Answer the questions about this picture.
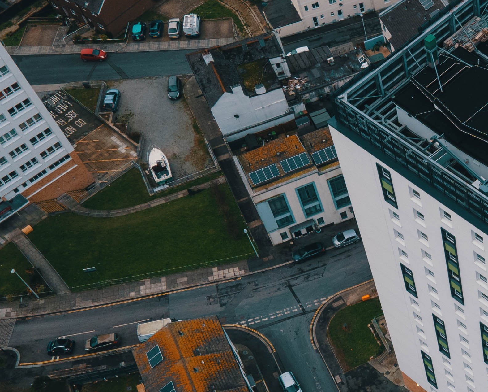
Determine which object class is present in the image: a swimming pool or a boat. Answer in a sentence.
Visible in the photo is a boat.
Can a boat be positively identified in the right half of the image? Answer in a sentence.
No, no boat appears in the right half of the image.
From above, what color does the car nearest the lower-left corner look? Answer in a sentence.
From above, the car nearest the lower-left corner appears black.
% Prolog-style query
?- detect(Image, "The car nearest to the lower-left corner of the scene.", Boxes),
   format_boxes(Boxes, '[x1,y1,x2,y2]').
[44,337,80,359]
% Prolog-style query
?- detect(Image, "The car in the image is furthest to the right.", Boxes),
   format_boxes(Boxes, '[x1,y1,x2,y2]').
[331,231,362,251]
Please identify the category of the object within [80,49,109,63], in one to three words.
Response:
car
